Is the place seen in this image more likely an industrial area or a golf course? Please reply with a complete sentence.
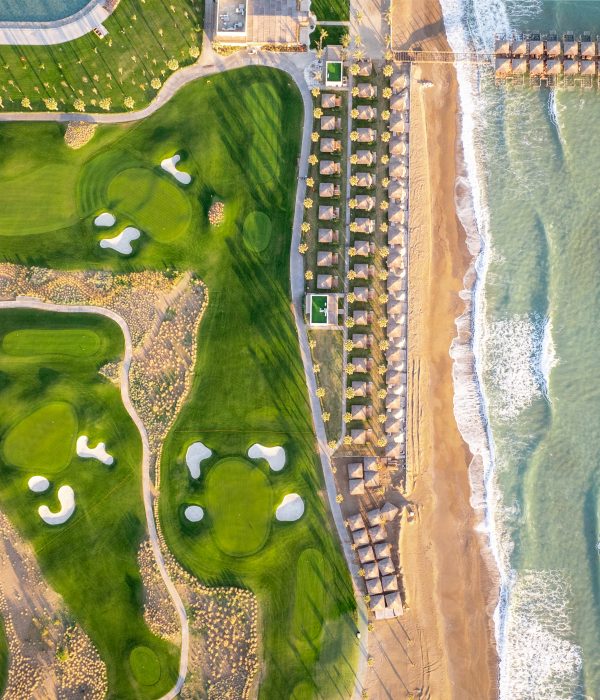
It's a golf course.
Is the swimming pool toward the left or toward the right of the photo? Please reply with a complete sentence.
It is on the left.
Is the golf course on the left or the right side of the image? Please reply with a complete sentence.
The golf course sits on the left side.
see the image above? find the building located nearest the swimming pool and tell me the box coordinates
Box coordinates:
[213,0,299,48]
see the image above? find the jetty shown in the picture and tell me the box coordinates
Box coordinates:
[385,38,600,84]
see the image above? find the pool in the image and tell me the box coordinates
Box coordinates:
[0,0,118,44]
